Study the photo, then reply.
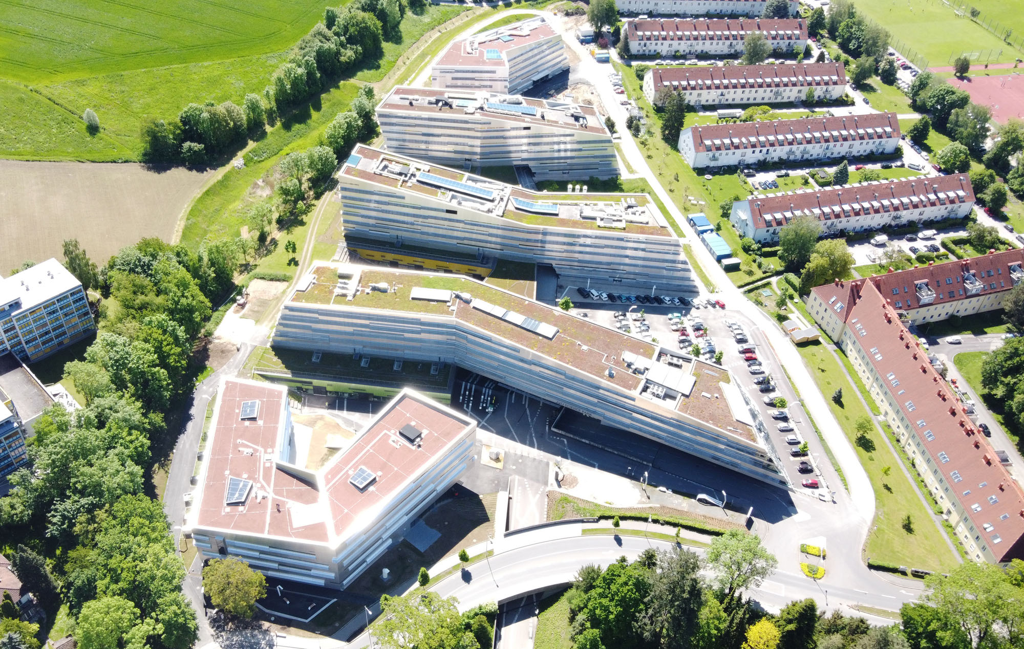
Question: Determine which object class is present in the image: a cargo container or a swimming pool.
cargo container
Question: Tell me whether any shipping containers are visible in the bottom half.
No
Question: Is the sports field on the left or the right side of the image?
right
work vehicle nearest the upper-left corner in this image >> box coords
[232,292,253,310]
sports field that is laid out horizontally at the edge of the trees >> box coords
[855,0,1024,66]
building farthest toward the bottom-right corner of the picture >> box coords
[840,306,1024,578]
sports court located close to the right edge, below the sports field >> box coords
[969,73,1024,124]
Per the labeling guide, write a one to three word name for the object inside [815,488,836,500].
vehicle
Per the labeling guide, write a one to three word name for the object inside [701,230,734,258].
shipping container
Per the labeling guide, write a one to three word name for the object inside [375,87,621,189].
building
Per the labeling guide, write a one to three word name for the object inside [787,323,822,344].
shed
